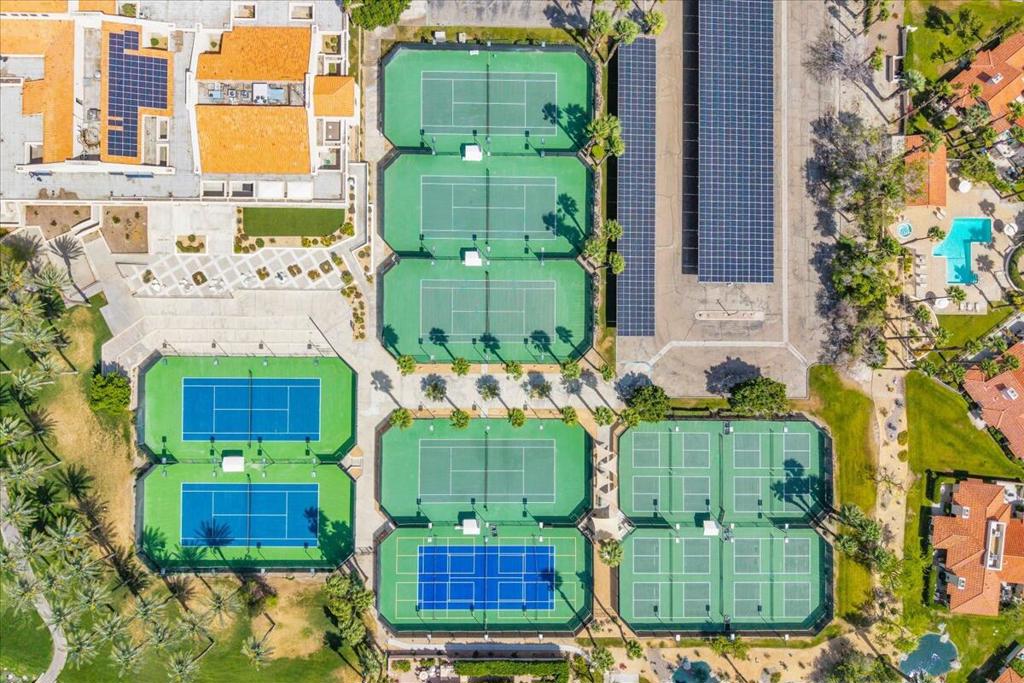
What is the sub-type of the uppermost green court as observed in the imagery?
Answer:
tennis court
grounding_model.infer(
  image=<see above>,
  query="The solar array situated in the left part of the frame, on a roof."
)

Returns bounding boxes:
[108,31,167,156]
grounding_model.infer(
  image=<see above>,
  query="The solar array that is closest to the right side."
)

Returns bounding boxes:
[698,0,774,283]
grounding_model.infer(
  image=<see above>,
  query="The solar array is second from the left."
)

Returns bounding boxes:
[617,38,655,336]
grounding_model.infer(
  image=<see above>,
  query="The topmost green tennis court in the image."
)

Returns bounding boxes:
[385,51,591,154]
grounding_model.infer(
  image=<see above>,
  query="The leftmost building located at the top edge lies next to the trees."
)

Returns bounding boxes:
[0,0,361,203]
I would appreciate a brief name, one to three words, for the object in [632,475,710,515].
sports court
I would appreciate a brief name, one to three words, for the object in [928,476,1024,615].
house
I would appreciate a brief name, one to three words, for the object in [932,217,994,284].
swimming pool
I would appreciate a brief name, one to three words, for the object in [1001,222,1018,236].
umbrella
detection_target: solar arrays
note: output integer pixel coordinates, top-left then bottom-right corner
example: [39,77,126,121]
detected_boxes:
[617,38,655,336]
[698,0,774,283]
[108,31,167,156]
